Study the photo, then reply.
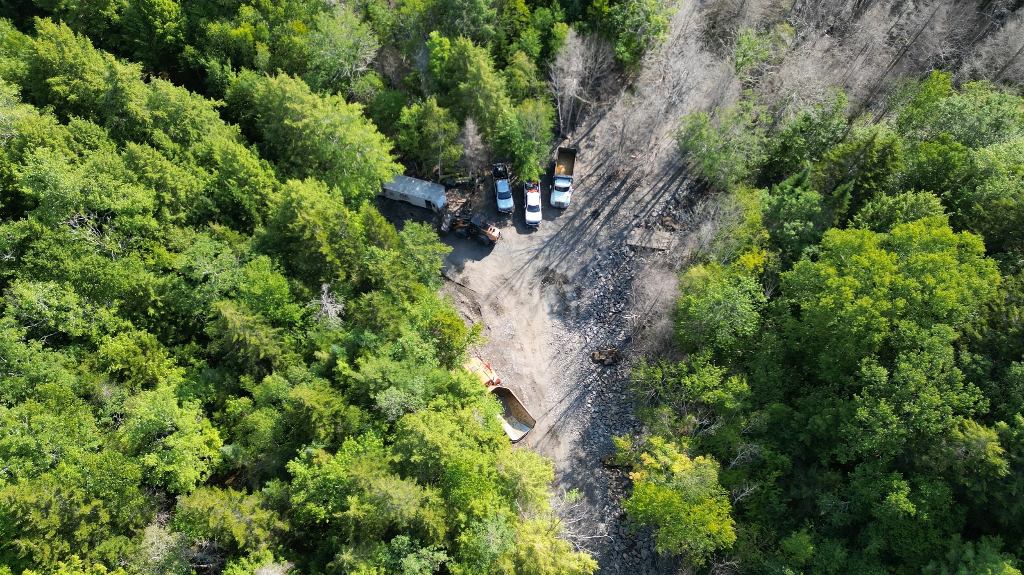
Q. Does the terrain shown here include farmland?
No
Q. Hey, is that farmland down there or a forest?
forest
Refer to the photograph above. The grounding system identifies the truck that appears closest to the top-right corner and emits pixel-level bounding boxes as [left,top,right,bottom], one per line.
[550,146,578,211]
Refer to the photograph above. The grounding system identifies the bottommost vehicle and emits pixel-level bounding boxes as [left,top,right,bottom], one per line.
[440,215,502,246]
